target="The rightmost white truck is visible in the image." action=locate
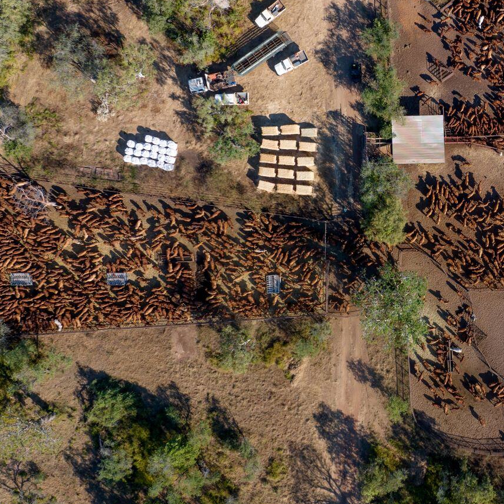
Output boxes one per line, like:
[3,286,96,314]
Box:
[275,50,310,75]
